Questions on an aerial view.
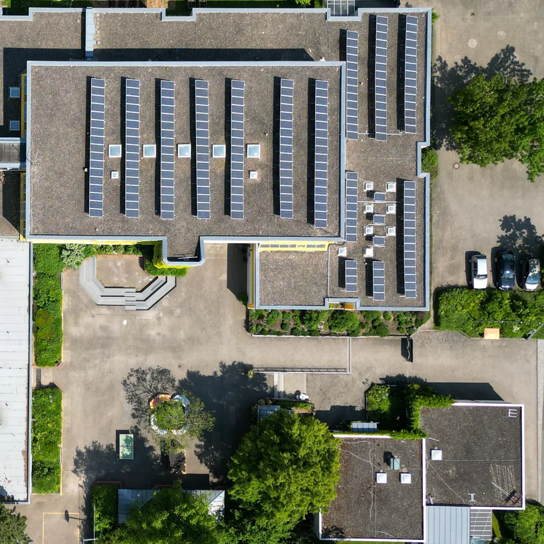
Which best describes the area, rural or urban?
urban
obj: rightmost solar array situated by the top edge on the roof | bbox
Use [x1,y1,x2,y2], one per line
[400,13,419,133]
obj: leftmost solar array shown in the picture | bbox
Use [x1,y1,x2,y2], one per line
[88,76,107,216]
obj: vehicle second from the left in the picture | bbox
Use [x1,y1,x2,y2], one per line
[494,251,518,290]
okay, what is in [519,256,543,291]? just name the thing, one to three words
car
